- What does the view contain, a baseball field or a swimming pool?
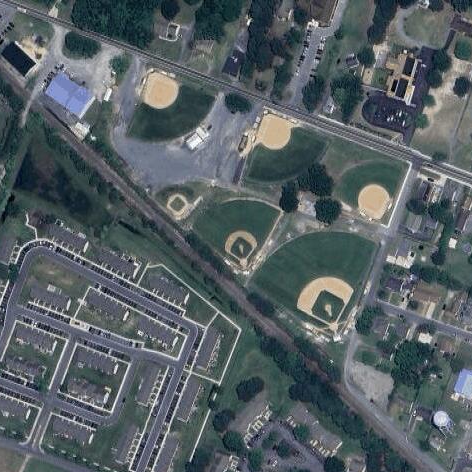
baseball field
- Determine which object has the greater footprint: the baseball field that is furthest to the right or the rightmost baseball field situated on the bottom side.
the rightmost baseball field situated on the bottom side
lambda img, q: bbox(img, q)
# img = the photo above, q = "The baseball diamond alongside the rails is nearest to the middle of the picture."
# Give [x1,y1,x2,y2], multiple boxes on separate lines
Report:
[194,196,281,269]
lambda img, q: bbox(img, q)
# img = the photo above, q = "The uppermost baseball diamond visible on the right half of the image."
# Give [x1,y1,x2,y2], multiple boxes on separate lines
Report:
[246,108,330,186]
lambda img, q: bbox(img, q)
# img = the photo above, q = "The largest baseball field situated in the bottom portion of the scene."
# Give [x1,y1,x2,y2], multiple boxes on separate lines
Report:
[245,230,383,337]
